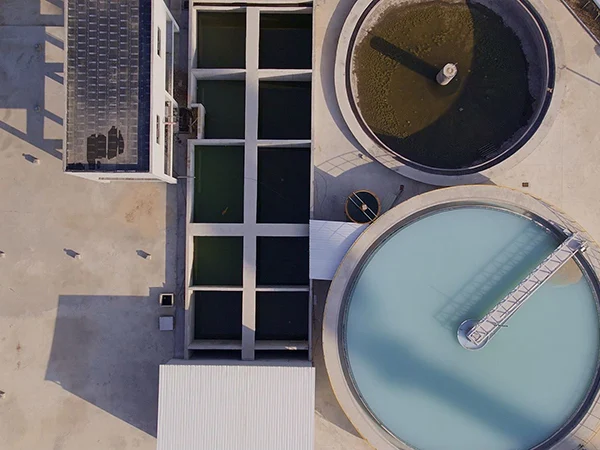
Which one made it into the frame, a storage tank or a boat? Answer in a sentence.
Looking from above, you can make out a storage tank.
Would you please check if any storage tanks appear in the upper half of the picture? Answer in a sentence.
Yes, in the upper half of the picture there is a storage tank.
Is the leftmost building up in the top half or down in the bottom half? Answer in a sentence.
It is in the top half that the leftmost building appears.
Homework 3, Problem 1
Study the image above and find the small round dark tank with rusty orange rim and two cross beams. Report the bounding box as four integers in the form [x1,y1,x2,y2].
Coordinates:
[344,189,380,223]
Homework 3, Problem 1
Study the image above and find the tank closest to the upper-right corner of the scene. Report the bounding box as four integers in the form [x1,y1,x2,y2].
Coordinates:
[334,0,567,188]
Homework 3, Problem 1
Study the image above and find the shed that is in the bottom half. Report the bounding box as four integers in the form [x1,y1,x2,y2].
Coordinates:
[158,354,314,450]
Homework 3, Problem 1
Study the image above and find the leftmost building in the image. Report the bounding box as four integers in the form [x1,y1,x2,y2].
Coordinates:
[63,0,178,183]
